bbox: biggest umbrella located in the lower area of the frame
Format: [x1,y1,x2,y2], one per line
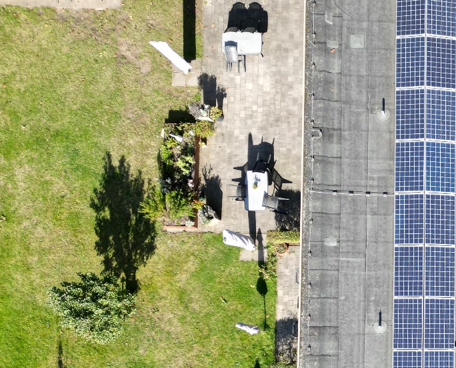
[220,228,257,255]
